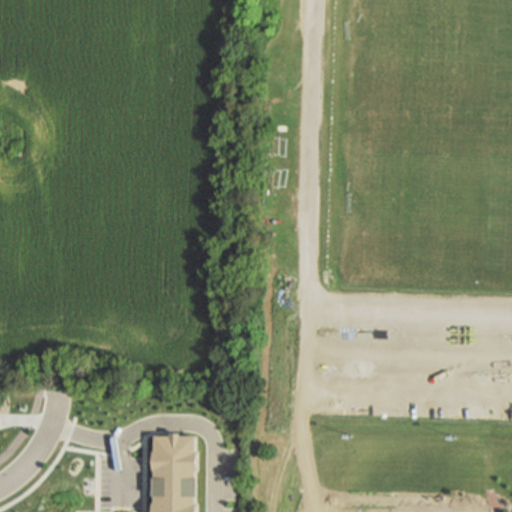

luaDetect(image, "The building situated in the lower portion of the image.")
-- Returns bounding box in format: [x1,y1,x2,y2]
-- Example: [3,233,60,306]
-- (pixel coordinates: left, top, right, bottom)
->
[149,435,198,512]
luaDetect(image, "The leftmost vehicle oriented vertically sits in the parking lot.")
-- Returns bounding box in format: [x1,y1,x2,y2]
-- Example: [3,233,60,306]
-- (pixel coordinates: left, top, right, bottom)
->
[110,428,122,472]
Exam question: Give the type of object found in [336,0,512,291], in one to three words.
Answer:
sports field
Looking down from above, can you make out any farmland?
Yes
